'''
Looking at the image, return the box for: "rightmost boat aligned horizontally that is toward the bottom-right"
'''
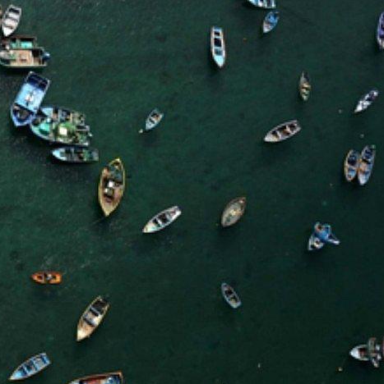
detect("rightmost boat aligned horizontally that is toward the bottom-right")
[349,345,384,361]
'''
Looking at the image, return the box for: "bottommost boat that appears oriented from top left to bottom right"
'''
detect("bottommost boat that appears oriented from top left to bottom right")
[221,283,241,310]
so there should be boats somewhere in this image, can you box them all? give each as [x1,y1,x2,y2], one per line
[9,353,49,382]
[262,8,280,33]
[72,374,124,384]
[10,69,50,129]
[0,45,50,68]
[349,345,384,361]
[144,108,163,131]
[353,88,377,113]
[99,158,126,217]
[52,146,99,161]
[32,270,61,284]
[142,205,183,231]
[222,195,248,228]
[221,283,241,310]
[2,3,22,35]
[1,33,38,50]
[306,219,332,251]
[78,297,110,343]
[248,0,276,8]
[323,233,342,244]
[41,103,87,123]
[342,149,359,182]
[210,26,226,67]
[357,145,375,185]
[368,337,377,366]
[375,10,384,49]
[297,71,312,101]
[30,116,95,149]
[263,118,302,140]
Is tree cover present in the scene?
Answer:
No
